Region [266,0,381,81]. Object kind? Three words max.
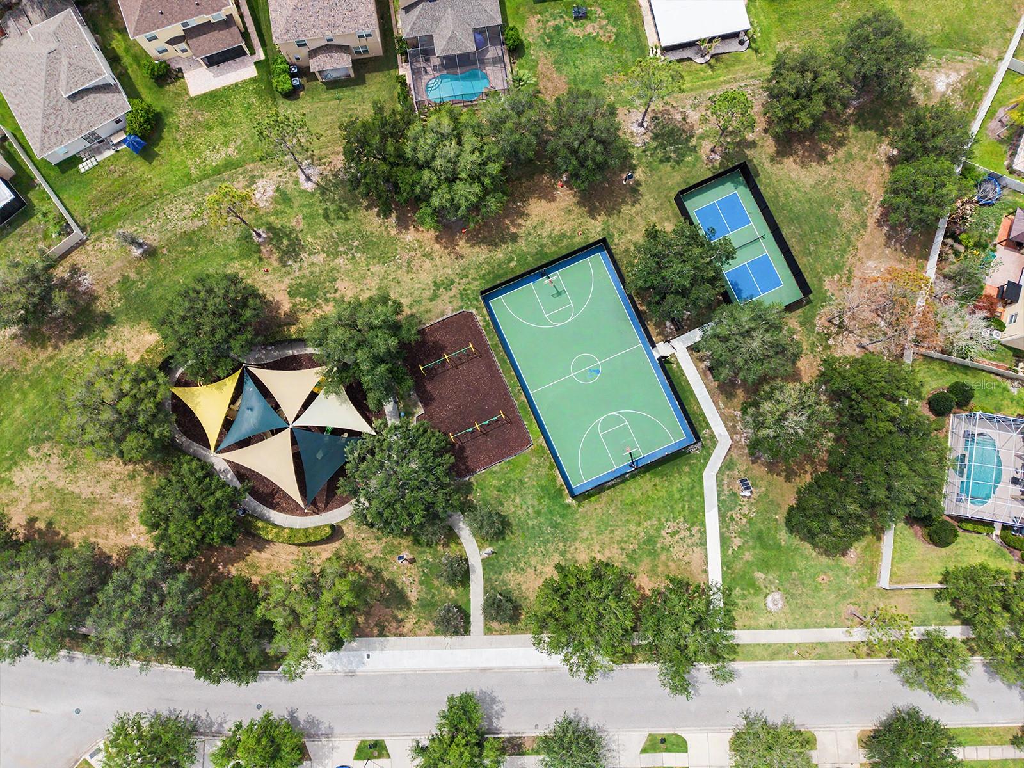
house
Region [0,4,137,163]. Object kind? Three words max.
house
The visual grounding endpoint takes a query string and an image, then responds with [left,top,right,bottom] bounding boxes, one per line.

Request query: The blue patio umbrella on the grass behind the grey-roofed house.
[125,133,146,154]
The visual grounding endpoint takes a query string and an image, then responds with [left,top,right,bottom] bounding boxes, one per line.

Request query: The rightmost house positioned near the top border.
[399,0,502,66]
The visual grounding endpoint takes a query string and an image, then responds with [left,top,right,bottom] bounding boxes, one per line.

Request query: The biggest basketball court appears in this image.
[485,244,696,496]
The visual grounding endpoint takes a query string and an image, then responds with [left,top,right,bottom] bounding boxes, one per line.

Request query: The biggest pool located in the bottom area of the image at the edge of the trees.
[957,423,1004,507]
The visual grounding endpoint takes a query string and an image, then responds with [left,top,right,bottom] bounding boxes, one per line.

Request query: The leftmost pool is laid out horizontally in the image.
[425,67,492,104]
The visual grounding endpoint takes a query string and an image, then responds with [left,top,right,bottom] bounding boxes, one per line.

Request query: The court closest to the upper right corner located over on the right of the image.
[688,171,805,315]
